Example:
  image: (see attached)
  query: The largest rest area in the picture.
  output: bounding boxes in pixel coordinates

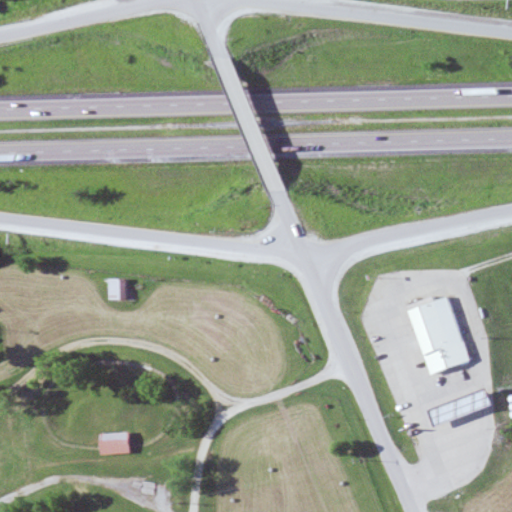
[362,268,494,508]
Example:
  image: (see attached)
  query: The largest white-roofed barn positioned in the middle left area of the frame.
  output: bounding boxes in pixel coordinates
[104,278,126,301]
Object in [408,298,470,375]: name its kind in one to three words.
gas station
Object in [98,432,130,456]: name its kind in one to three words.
barn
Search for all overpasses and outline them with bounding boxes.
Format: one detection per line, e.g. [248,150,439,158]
[213,54,286,194]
